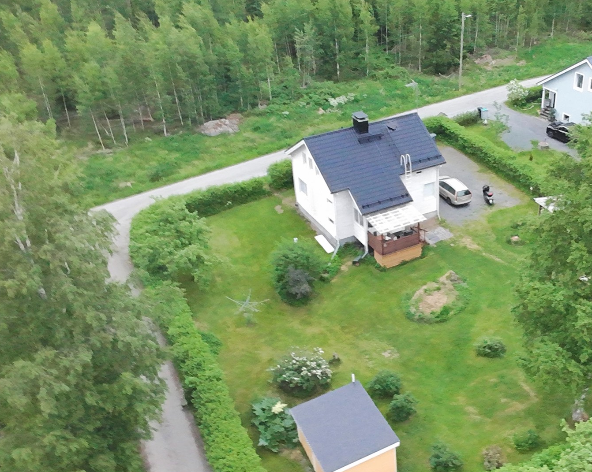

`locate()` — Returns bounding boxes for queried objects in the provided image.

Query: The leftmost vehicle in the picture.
[438,179,471,205]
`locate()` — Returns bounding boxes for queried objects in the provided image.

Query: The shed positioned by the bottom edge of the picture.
[288,378,403,472]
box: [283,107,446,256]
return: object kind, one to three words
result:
house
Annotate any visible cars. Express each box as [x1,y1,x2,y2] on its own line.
[438,179,471,205]
[542,122,583,143]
